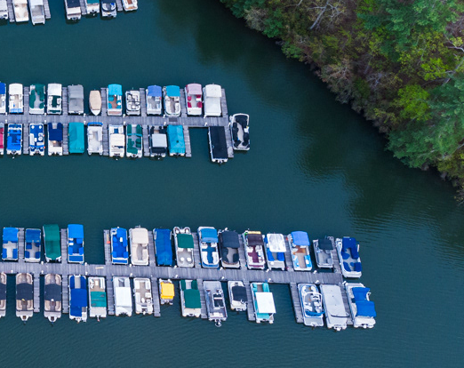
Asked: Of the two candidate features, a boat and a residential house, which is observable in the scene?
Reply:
boat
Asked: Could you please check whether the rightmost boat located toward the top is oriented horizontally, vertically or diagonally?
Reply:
vertically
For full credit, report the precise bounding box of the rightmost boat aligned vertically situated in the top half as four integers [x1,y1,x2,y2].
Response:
[232,113,252,150]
